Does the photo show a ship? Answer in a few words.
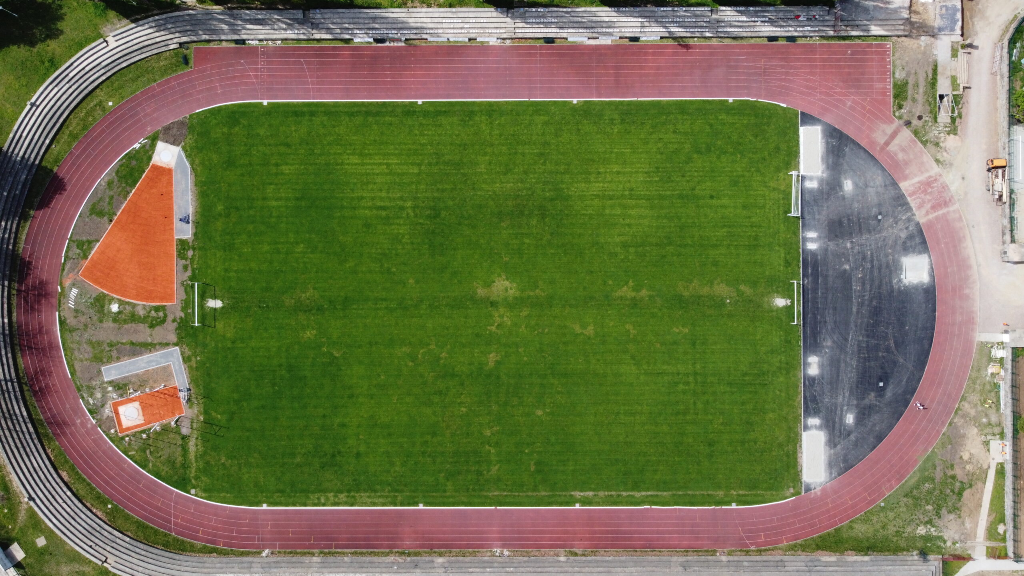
No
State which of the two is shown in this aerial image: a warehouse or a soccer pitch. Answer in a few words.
soccer pitch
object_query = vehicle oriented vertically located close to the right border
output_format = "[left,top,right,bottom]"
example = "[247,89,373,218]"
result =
[983,160,1008,209]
